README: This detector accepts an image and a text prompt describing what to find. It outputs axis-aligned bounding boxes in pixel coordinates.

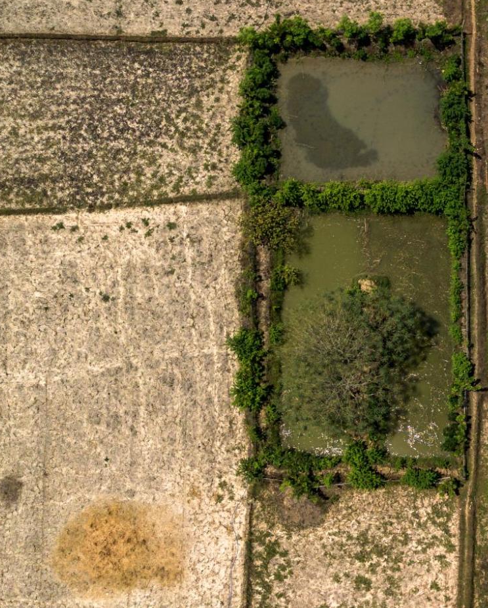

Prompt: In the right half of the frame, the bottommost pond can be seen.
[281,212,452,458]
